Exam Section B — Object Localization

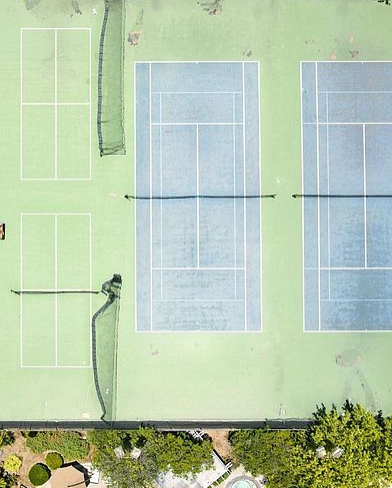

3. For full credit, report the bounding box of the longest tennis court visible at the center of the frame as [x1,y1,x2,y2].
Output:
[135,62,263,333]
